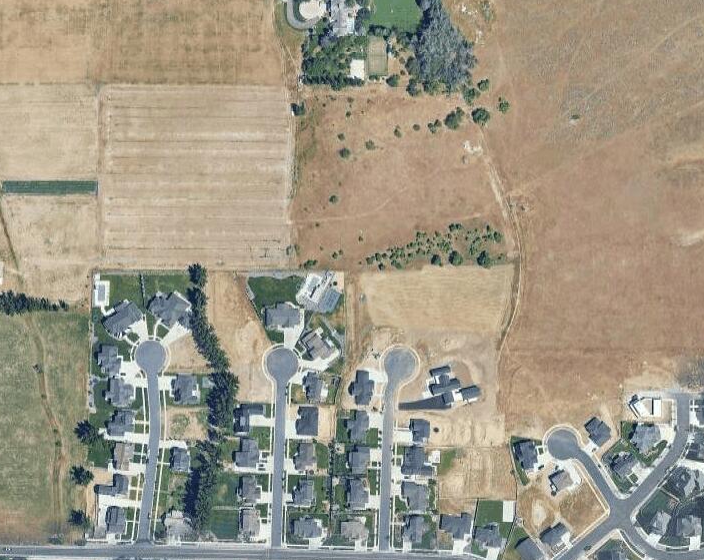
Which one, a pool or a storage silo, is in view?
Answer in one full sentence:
There is a pool in the scene.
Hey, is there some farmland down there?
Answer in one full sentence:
Yes, the picture does contain farmland.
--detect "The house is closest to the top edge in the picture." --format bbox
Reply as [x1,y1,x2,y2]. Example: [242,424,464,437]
[329,0,355,36]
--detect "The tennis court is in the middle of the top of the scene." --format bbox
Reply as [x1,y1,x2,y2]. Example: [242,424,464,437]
[369,37,388,76]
